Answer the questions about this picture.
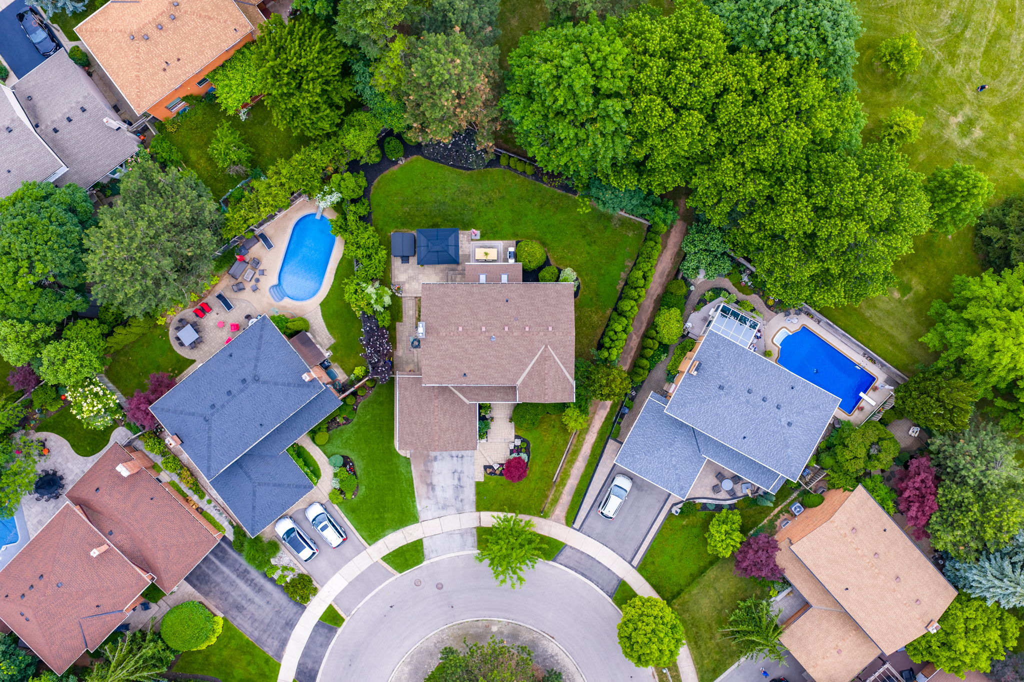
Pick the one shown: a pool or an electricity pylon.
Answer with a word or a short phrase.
pool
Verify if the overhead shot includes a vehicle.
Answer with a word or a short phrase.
Yes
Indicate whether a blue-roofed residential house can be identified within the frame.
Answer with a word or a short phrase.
Yes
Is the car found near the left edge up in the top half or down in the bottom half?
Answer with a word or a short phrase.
top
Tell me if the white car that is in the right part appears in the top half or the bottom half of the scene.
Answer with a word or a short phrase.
bottom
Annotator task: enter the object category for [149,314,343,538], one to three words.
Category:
house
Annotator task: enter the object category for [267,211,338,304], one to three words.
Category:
swimming pool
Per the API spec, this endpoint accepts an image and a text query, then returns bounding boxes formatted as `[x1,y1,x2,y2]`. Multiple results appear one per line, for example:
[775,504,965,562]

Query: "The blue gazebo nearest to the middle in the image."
[416,229,460,267]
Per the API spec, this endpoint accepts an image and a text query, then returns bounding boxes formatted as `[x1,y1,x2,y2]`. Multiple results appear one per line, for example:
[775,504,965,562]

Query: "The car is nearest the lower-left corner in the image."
[276,516,319,564]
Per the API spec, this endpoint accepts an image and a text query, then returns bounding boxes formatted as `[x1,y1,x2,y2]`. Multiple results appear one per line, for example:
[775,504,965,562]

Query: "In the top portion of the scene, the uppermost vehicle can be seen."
[14,5,59,56]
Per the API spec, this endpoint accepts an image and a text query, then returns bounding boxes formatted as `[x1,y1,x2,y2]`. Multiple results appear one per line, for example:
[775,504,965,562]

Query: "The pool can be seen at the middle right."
[772,324,879,416]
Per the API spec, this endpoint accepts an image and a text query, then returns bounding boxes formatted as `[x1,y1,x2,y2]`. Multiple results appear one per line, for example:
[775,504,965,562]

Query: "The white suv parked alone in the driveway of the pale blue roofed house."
[598,472,631,523]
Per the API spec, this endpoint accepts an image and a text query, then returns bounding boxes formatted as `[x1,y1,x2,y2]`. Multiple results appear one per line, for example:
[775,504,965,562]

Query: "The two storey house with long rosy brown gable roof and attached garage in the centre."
[398,263,576,454]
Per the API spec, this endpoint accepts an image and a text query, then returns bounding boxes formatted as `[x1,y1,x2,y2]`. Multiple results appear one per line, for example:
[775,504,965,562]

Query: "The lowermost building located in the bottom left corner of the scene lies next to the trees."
[0,442,228,677]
